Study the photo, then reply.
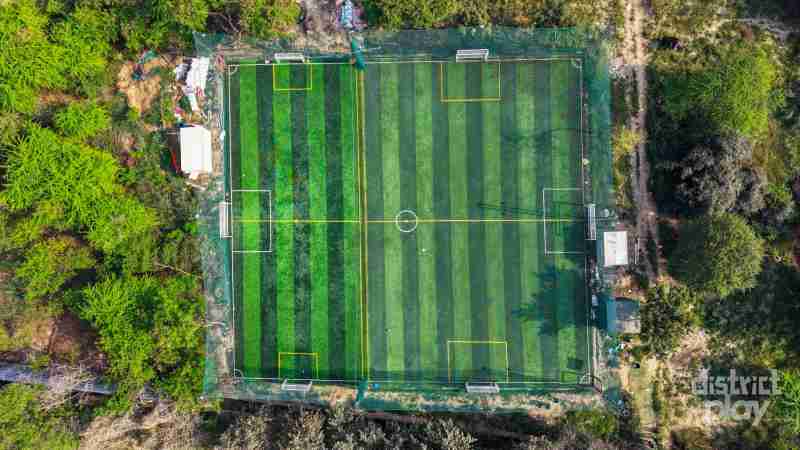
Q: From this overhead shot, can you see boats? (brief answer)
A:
No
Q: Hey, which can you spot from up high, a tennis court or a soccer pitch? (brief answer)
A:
soccer pitch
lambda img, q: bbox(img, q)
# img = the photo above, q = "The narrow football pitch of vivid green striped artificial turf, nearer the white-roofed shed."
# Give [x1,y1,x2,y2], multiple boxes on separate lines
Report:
[226,58,372,385]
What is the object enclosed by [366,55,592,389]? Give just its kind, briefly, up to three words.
soccer field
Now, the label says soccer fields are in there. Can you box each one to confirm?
[366,55,592,389]
[226,58,372,385]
